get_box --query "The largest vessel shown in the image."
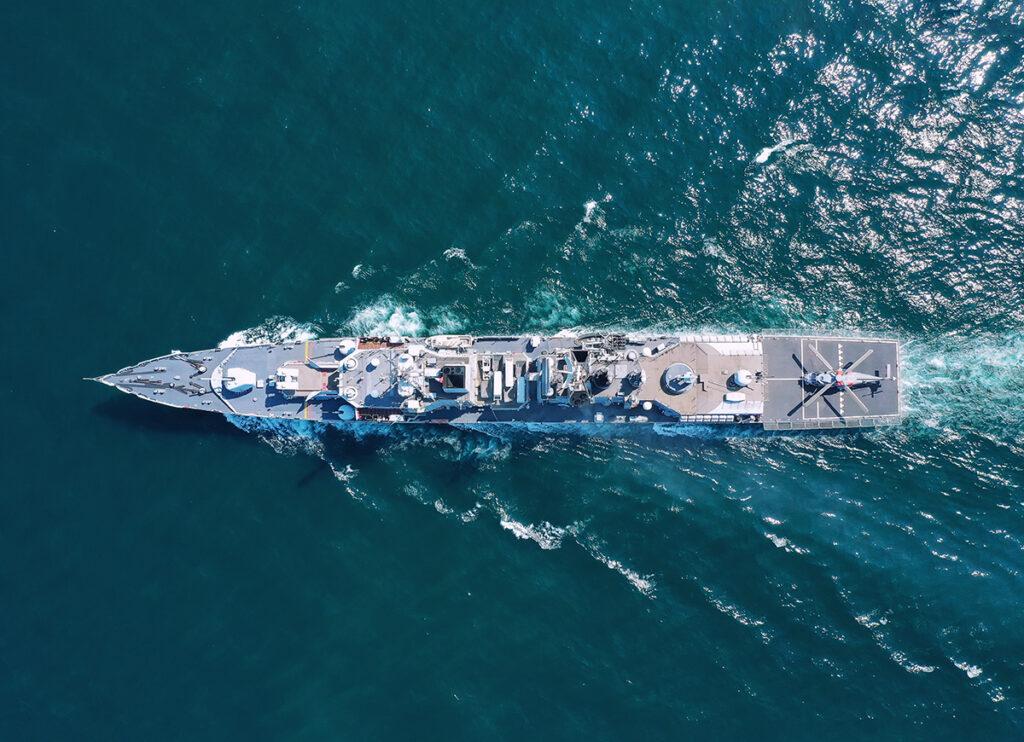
[84,329,904,430]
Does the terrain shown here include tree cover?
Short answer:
No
